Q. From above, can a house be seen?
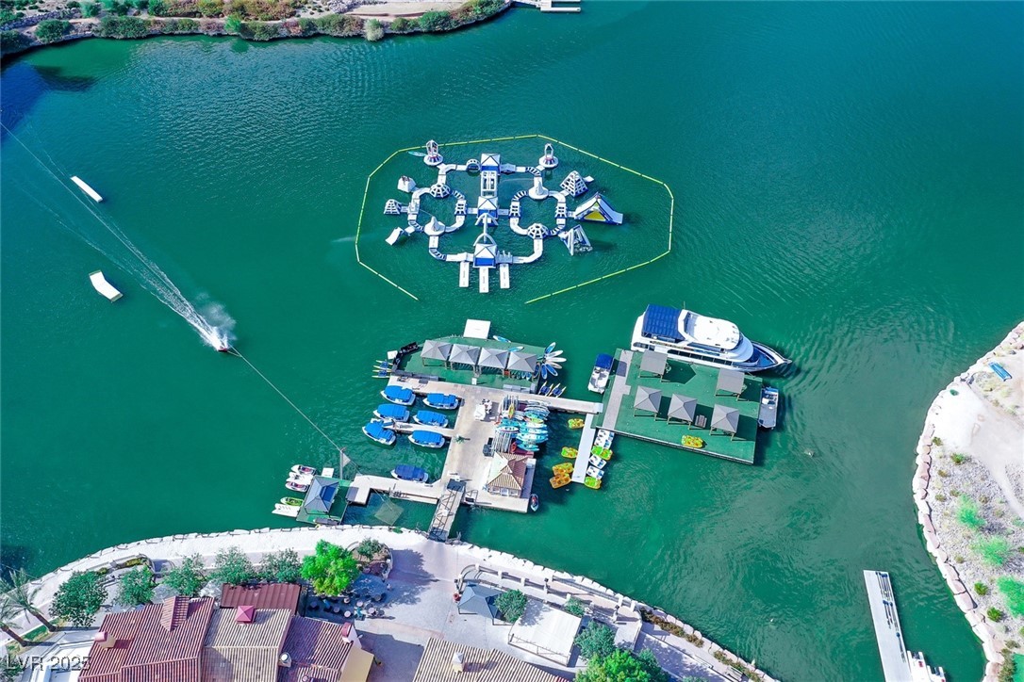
Yes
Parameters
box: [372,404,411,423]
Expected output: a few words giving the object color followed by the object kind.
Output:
blue boat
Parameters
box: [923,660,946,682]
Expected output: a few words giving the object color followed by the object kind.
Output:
white boat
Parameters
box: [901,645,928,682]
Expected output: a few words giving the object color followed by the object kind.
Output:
white boat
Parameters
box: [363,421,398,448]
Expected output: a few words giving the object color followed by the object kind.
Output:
blue boat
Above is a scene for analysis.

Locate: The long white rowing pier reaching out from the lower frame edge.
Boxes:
[862,571,909,682]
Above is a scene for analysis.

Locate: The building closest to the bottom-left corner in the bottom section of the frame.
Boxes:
[20,639,92,682]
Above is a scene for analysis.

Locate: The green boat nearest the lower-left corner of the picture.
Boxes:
[279,495,305,508]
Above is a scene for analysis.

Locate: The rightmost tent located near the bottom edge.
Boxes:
[509,597,582,667]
